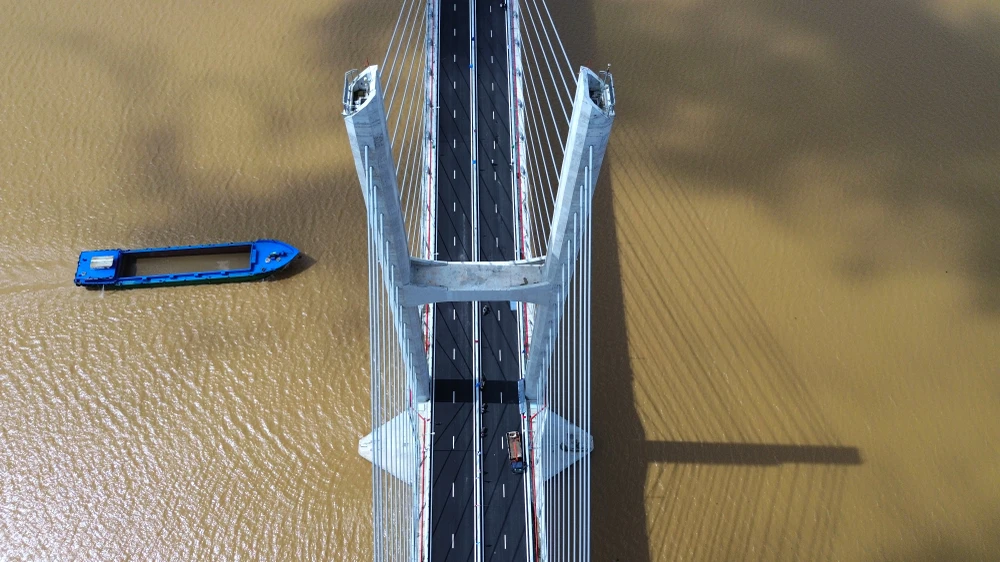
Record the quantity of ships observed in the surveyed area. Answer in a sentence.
The picture shows 1 ship.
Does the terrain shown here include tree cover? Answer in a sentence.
No, no tree cover is visible.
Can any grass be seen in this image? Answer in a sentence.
No, the picture contains no grass.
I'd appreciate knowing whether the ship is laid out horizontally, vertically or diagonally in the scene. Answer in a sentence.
Seen from above, the ship lies horizontally.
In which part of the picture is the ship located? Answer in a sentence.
The ship appears toward the left of the photo.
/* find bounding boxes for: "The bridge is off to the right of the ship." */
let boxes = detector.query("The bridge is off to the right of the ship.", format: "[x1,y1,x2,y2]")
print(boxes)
[343,0,611,562]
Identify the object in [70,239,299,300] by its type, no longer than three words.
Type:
ship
